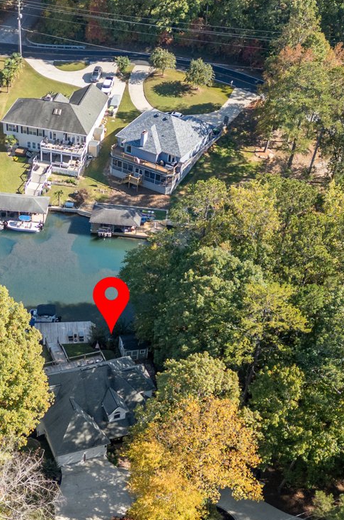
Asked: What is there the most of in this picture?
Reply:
trees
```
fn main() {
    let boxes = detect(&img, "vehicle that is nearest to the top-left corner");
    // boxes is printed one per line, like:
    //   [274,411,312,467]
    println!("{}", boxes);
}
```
[90,63,103,78]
